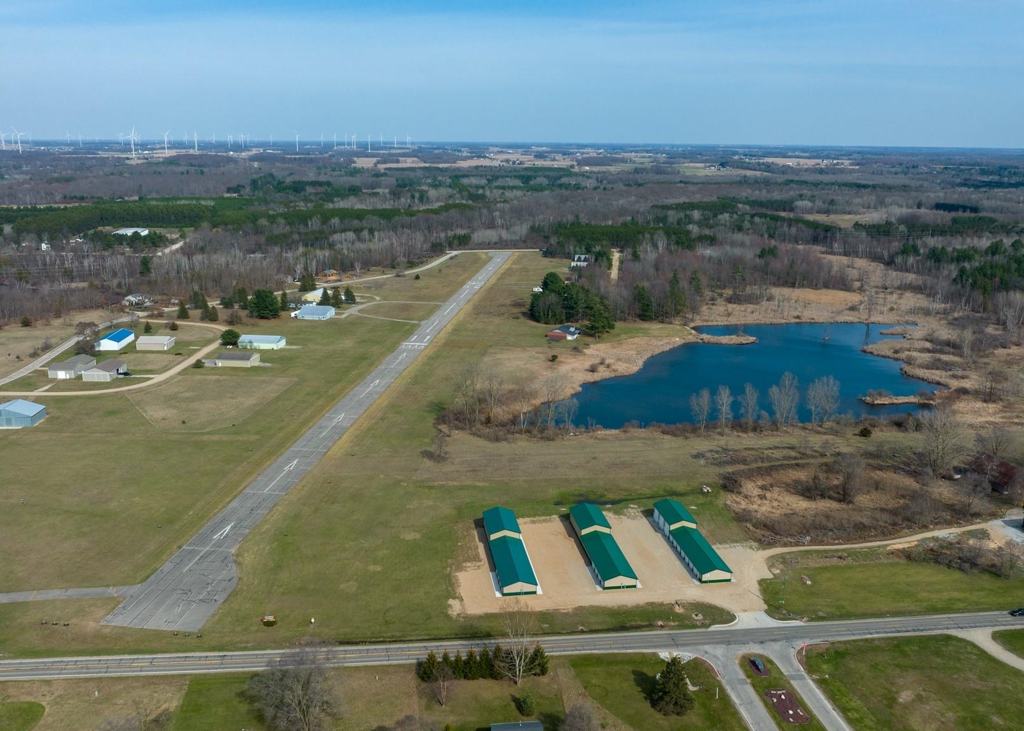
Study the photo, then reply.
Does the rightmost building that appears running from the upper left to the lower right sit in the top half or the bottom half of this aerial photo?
bottom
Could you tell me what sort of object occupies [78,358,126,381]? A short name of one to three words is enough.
hangar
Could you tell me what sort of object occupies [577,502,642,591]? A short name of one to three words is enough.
building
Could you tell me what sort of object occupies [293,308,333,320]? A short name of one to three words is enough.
hangar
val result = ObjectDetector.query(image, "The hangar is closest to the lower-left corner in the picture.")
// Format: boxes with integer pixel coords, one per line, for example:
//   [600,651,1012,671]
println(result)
[0,399,49,427]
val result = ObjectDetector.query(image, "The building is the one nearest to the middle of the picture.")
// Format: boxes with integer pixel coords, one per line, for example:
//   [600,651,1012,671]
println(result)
[547,325,575,341]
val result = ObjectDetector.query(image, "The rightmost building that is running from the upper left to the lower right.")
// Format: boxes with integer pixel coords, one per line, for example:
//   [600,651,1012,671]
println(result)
[656,497,736,584]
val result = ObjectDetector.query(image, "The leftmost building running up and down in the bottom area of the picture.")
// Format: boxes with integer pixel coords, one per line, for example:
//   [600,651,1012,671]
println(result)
[489,505,543,596]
